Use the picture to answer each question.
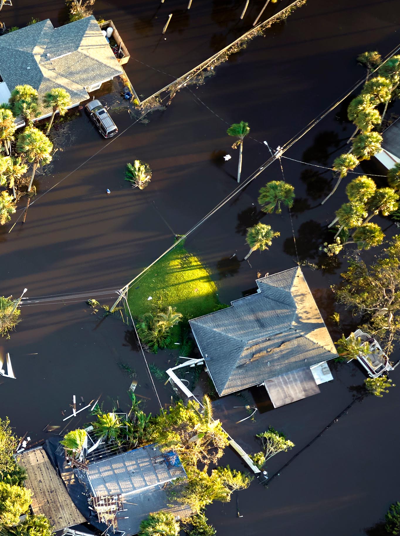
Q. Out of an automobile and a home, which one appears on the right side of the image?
home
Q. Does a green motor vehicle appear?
No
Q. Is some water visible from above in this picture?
Yes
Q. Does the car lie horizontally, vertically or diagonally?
diagonally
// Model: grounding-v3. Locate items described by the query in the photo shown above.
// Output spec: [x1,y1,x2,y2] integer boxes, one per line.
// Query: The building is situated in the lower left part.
[11,438,187,536]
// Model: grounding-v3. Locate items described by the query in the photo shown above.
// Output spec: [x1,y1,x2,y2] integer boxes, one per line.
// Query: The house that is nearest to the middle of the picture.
[187,266,339,409]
